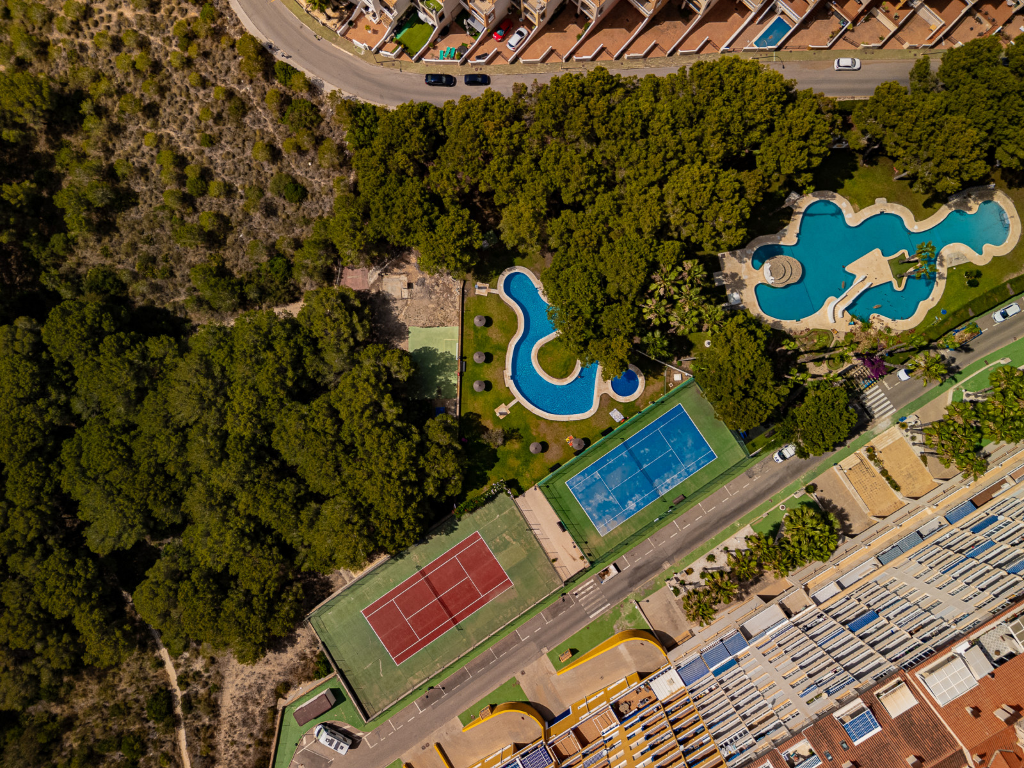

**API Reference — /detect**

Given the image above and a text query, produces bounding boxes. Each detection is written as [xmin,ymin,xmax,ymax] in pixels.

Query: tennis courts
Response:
[540,381,748,565]
[310,491,562,719]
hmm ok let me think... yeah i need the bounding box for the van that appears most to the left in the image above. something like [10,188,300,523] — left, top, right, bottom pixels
[312,728,352,765]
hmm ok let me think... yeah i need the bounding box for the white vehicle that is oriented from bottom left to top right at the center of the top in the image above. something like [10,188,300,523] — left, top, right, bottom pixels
[506,24,529,49]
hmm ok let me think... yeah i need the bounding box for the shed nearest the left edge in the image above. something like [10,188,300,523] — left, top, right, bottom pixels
[289,689,335,732]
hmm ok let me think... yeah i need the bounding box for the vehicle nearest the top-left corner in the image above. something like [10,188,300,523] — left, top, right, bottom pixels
[425,71,454,86]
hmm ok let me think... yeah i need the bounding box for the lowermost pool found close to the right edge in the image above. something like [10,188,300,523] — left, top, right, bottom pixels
[713,189,1022,333]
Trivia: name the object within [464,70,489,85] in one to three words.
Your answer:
car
